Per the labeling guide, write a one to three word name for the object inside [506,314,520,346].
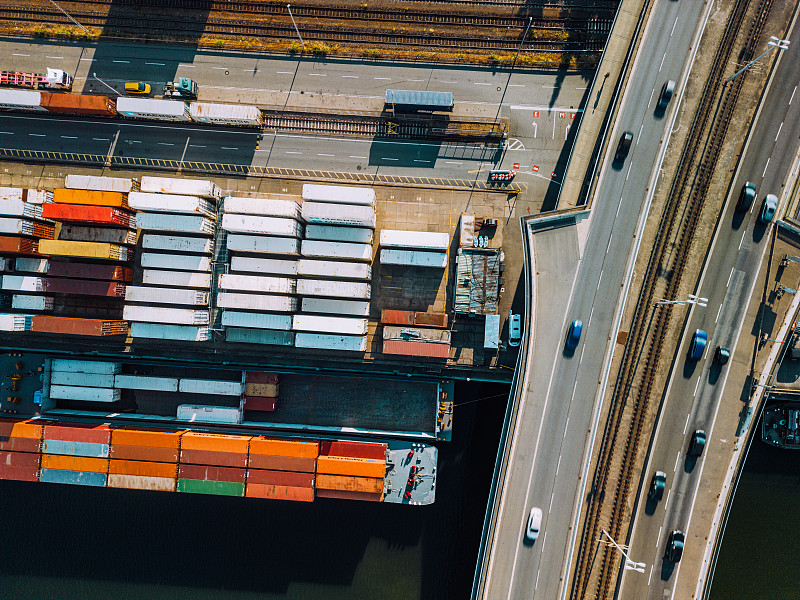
vehicle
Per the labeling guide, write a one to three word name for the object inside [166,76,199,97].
truck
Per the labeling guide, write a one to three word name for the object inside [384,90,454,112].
trailer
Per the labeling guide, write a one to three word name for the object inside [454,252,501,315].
shed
